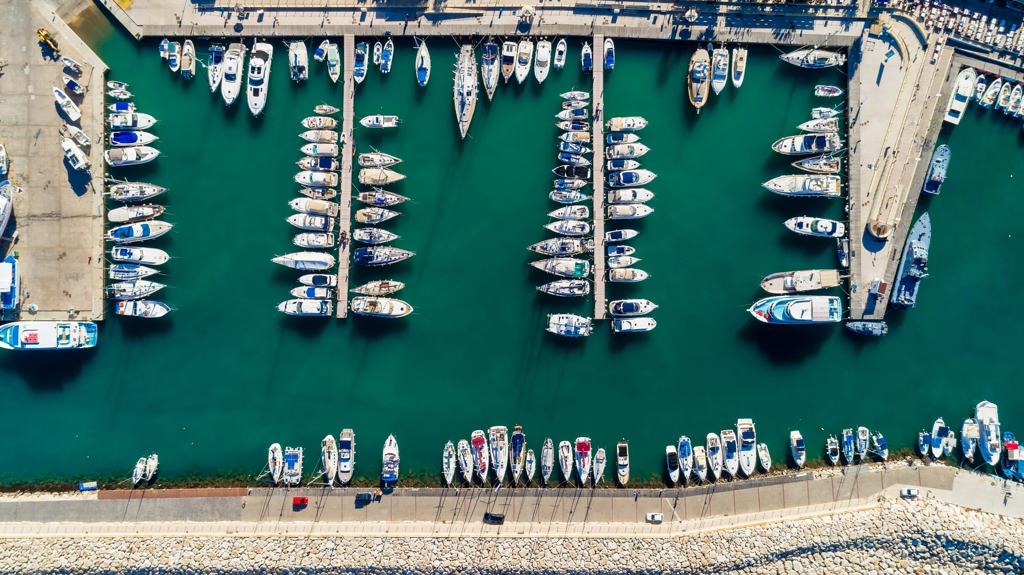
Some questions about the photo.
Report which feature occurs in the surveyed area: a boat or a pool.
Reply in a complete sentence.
Looking from above, you can make out a boat.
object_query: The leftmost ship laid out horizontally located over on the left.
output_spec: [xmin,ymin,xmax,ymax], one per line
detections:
[0,320,104,351]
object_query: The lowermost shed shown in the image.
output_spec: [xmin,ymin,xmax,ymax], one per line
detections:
[864,275,889,296]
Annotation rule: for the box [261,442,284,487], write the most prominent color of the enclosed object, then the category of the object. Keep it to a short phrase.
white boat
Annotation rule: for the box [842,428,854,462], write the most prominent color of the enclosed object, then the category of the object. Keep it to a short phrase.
blue boat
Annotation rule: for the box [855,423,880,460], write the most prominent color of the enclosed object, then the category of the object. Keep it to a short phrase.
white boat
